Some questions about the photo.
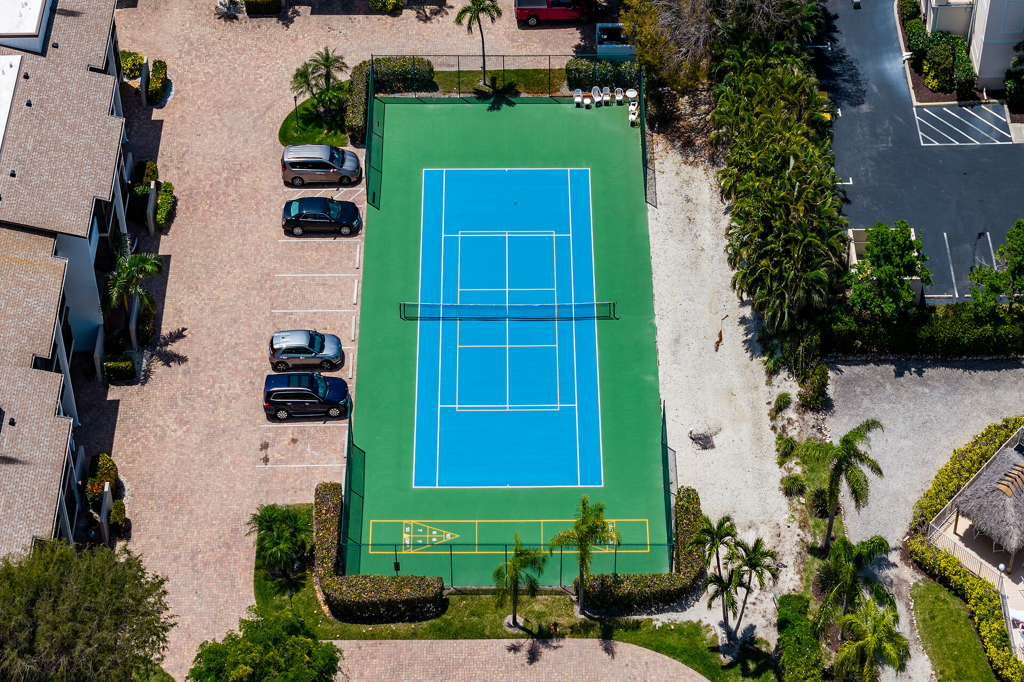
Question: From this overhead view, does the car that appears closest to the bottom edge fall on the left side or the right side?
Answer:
left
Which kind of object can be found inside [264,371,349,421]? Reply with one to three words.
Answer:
car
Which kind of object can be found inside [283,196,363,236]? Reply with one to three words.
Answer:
car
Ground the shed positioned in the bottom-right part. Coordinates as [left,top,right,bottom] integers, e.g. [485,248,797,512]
[949,450,1024,576]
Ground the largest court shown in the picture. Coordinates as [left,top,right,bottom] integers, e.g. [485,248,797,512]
[347,94,671,588]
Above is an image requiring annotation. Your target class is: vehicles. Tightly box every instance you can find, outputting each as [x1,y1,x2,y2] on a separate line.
[264,371,349,421]
[514,0,597,28]
[283,196,363,236]
[269,327,343,372]
[282,141,362,187]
